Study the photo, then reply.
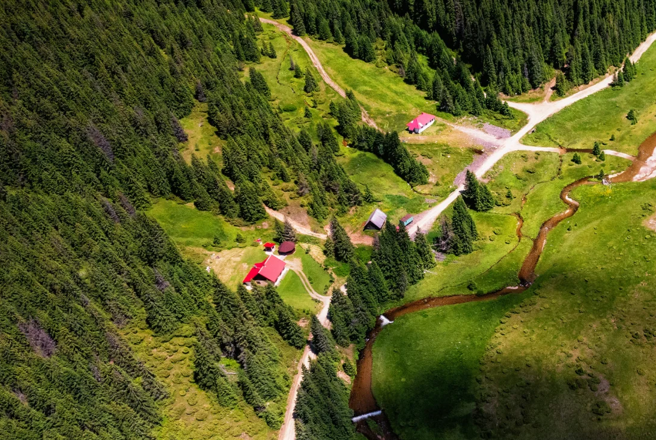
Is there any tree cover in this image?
Yes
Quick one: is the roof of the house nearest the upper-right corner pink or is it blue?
pink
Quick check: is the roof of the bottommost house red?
Yes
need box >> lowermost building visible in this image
[241,253,287,285]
